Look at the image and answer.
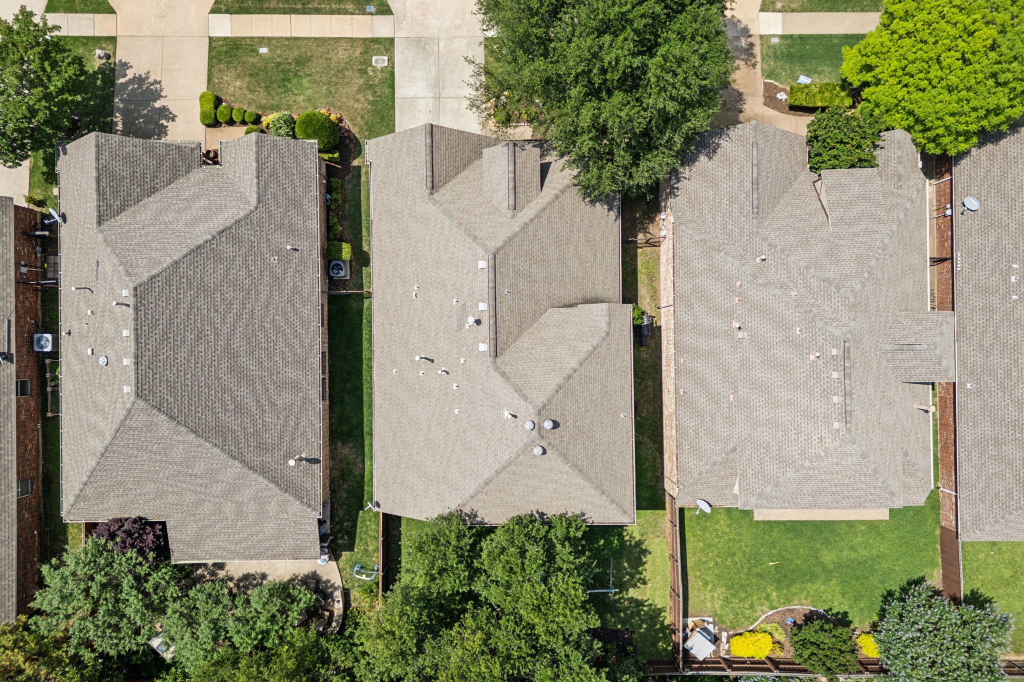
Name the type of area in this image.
residential area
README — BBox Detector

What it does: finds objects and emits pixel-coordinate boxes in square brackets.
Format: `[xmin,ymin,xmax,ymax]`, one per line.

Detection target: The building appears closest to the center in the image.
[365,123,638,527]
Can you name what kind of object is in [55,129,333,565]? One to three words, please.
house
